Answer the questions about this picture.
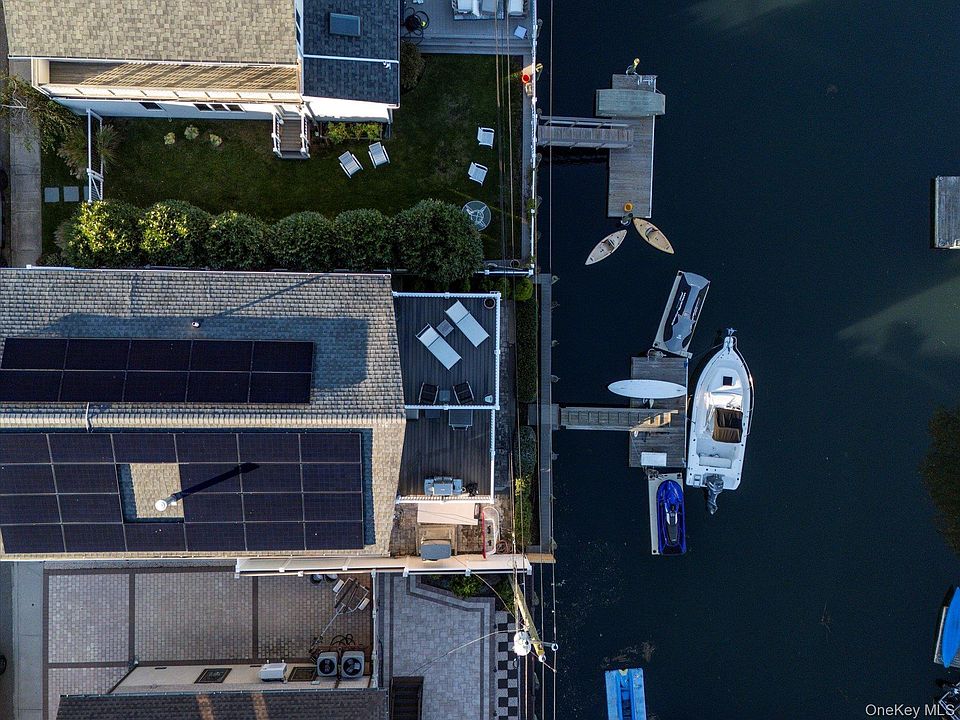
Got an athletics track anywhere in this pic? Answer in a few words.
No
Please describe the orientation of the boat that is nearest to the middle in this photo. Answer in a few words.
at an angle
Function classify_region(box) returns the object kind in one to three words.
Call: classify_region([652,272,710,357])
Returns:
pier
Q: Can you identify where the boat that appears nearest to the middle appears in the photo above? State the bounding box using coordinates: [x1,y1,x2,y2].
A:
[586,231,628,265]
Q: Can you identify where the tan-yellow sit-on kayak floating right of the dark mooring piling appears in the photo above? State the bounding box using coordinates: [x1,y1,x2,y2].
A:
[633,218,675,253]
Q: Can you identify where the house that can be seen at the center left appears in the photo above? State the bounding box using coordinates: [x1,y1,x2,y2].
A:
[0,266,406,559]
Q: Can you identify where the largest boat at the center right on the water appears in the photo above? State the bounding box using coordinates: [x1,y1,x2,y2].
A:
[686,328,758,517]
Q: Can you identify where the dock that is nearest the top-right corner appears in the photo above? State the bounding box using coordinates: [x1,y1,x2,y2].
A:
[928,176,960,249]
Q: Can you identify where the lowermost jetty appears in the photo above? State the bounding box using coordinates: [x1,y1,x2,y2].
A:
[927,602,960,668]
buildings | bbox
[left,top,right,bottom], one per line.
[0,266,406,559]
[0,0,405,157]
[52,668,389,720]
